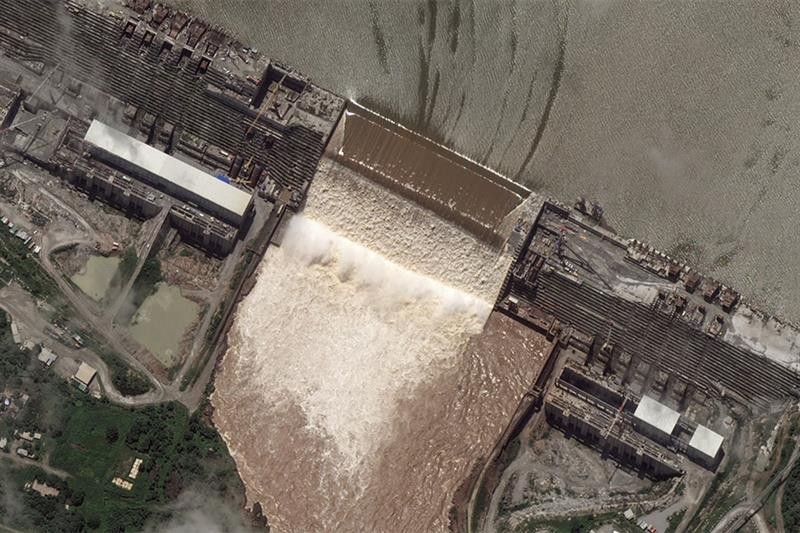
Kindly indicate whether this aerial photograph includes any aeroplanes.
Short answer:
No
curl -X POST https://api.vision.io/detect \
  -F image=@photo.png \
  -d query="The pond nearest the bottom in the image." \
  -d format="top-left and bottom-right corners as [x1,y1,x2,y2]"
[132,284,198,366]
